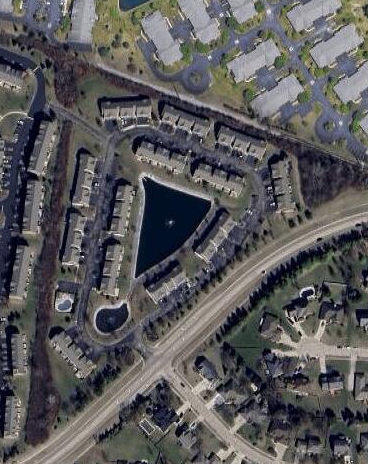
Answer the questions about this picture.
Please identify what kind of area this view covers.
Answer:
residential area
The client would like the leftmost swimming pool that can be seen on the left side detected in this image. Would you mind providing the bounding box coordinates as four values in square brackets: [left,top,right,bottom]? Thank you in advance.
[57,295,73,311]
